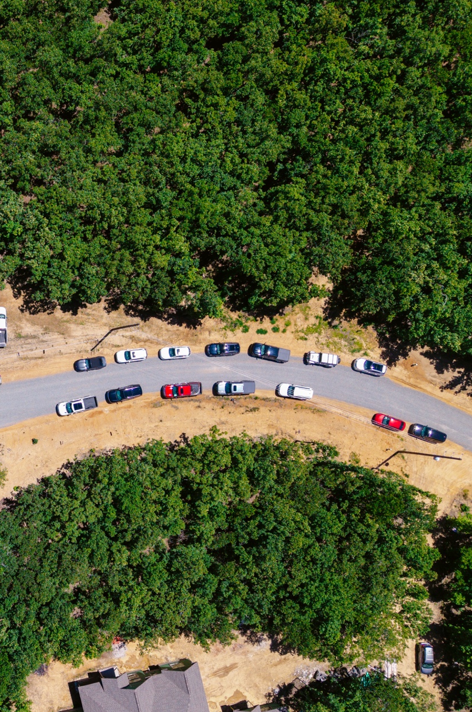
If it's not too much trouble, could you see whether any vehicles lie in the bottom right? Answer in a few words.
Yes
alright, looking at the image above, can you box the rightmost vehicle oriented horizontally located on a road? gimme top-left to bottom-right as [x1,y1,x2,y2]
[407,424,450,444]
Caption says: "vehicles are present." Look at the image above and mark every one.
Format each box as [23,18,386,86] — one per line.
[55,395,100,416]
[247,342,293,363]
[275,383,315,399]
[213,379,257,397]
[114,346,148,363]
[370,413,408,431]
[304,352,343,367]
[350,357,389,375]
[205,340,242,357]
[407,424,450,444]
[104,384,144,401]
[157,345,192,360]
[417,642,438,674]
[161,380,204,398]
[73,355,107,372]
[0,306,10,350]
